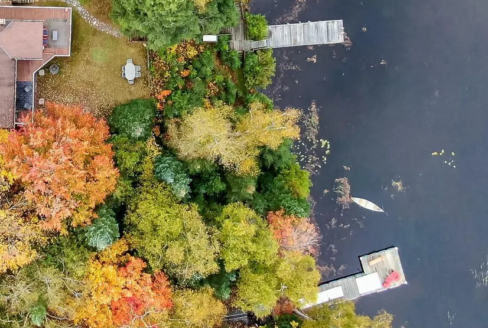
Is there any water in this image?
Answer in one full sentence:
Yes, water shows up in the scene.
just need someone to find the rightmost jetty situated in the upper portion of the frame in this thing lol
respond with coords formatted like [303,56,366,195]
[253,20,345,49]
